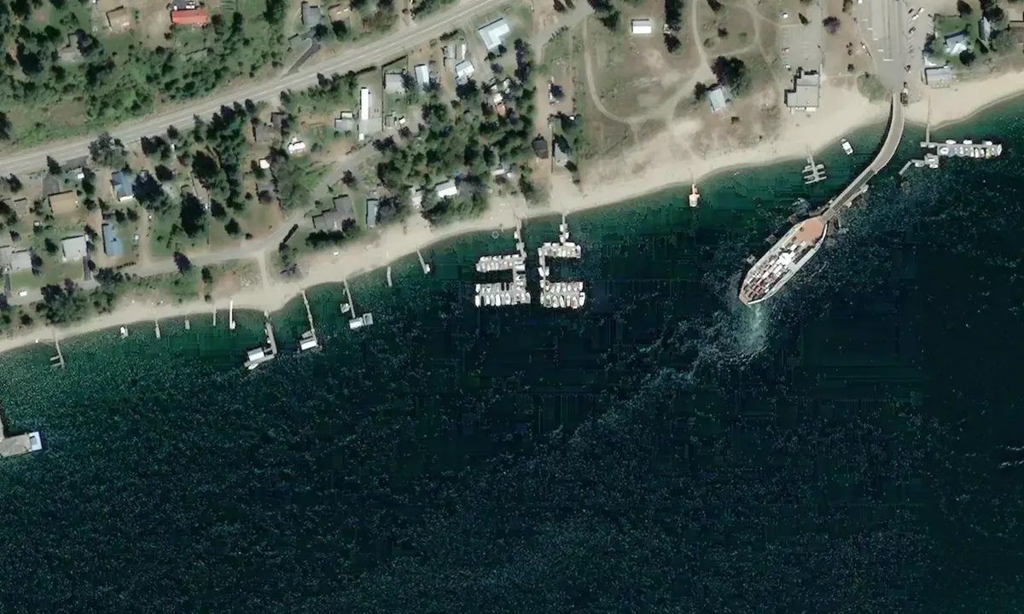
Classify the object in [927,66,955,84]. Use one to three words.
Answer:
building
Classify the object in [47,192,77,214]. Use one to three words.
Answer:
house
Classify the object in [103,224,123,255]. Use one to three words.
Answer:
house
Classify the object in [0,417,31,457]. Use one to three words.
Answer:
pier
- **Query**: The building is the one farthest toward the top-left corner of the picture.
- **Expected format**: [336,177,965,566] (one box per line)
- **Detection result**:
[59,39,83,61]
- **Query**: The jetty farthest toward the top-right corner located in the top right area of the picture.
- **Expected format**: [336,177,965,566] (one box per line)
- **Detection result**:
[920,100,1001,156]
